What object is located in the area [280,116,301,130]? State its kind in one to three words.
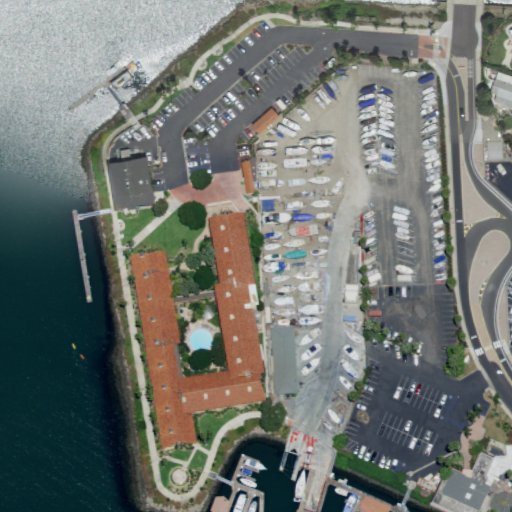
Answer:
boat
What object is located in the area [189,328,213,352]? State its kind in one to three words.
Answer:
swimming pool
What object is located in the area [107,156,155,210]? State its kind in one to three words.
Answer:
building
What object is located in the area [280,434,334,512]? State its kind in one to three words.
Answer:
pier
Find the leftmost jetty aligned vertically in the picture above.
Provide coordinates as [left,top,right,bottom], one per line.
[73,210,92,302]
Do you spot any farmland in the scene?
No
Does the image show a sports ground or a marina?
marina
